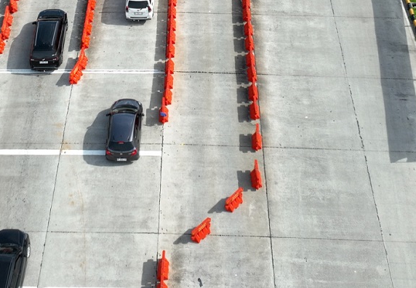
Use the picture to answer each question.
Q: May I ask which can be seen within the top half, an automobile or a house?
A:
automobile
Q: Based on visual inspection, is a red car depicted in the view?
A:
No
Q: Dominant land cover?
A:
paved ground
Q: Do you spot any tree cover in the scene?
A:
No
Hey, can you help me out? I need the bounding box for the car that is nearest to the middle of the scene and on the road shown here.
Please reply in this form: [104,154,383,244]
[106,94,146,161]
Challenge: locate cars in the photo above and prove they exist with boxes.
[106,94,146,161]
[125,0,156,21]
[0,222,35,288]
[29,11,68,70]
